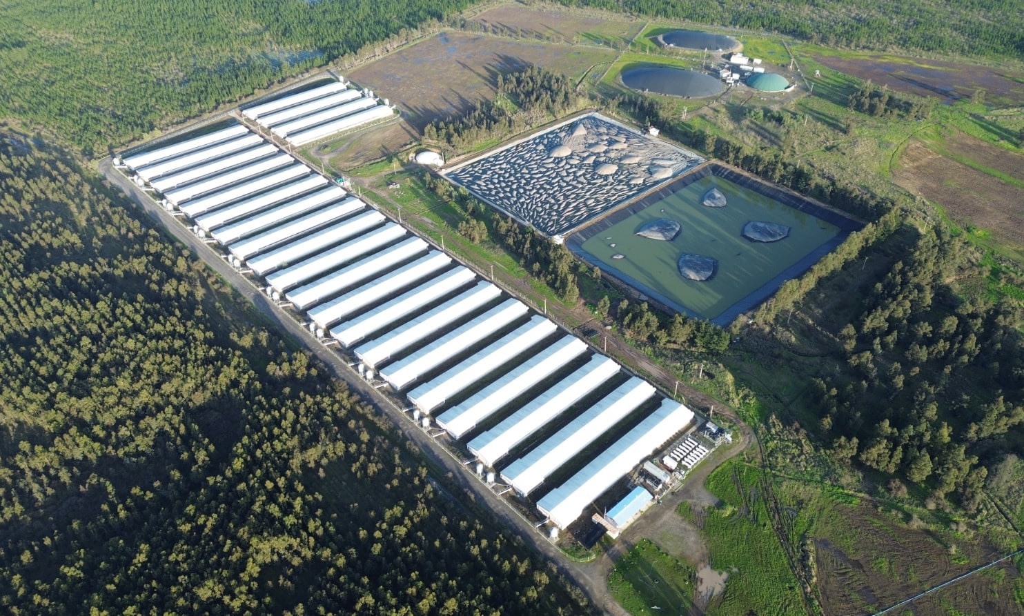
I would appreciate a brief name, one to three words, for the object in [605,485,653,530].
building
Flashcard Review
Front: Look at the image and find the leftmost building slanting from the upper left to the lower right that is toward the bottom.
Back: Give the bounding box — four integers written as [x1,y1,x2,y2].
[590,513,622,543]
